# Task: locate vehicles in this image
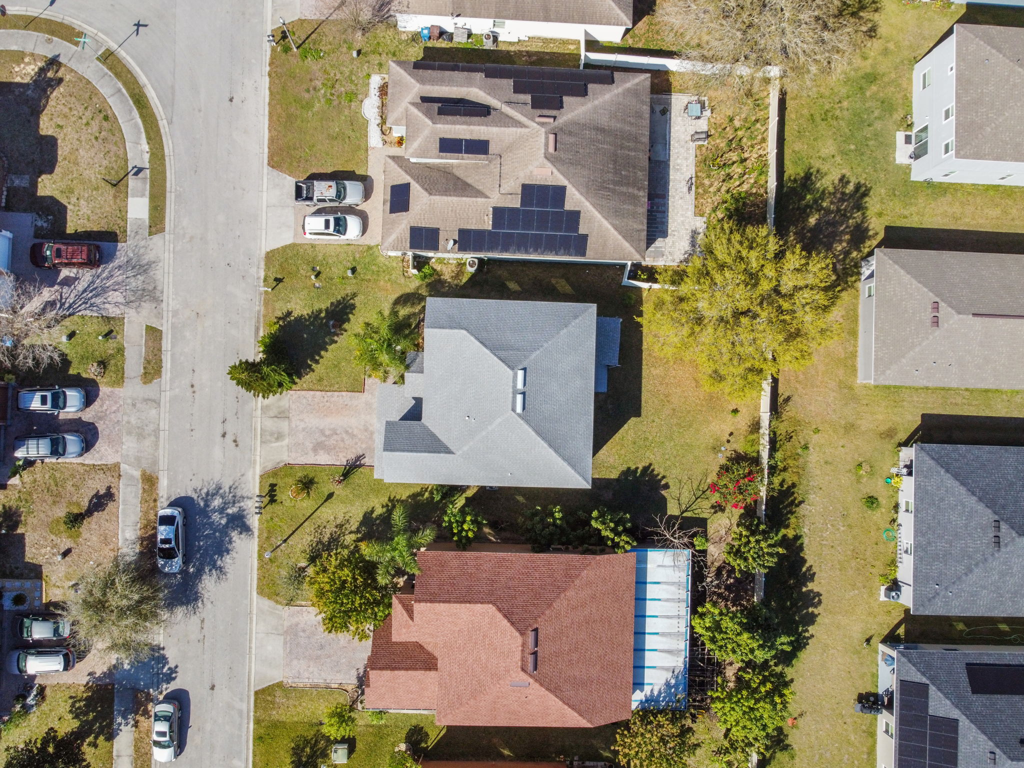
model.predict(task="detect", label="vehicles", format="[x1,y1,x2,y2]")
[151,695,187,758]
[294,177,366,209]
[33,238,105,271]
[9,643,81,678]
[15,429,90,462]
[18,384,91,416]
[303,212,364,242]
[14,612,80,645]
[155,505,190,571]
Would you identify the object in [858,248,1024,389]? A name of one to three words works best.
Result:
house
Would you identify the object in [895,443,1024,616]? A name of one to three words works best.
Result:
house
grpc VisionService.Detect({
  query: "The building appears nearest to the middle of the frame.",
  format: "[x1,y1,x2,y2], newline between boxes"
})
[375,298,621,489]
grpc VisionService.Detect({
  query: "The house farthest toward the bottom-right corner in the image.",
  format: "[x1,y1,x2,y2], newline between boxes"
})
[878,643,1024,768]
